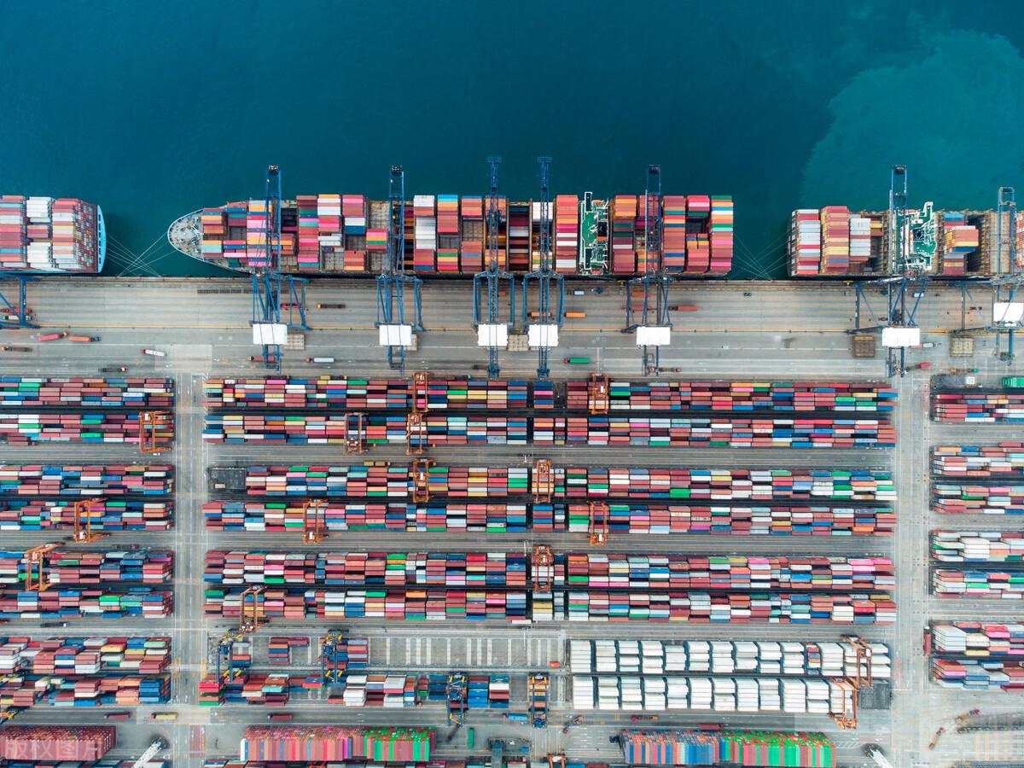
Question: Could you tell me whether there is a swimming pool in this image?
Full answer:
No, there isn't any swimming pool down there.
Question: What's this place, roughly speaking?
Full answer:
The area seen from above is a port.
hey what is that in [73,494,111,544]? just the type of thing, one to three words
container crane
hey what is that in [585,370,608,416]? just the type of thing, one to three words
container crane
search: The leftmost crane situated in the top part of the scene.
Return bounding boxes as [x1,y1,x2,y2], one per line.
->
[0,277,40,327]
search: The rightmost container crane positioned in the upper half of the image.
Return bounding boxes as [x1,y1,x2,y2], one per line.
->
[956,182,1024,370]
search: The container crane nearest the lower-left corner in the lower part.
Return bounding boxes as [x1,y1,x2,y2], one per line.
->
[0,666,35,724]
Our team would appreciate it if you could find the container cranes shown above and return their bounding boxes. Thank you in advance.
[251,166,312,371]
[523,155,562,377]
[376,167,425,372]
[532,539,552,592]
[0,277,40,327]
[73,494,111,544]
[839,631,873,688]
[585,495,607,546]
[322,628,349,685]
[624,169,673,374]
[531,454,552,503]
[137,407,173,454]
[0,666,35,724]
[826,671,859,730]
[411,369,434,415]
[585,370,608,416]
[848,170,925,375]
[475,154,515,377]
[302,493,330,544]
[216,630,248,687]
[956,182,1024,370]
[412,453,435,503]
[345,408,371,456]
[240,582,270,633]
[25,537,65,590]
[406,408,429,456]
